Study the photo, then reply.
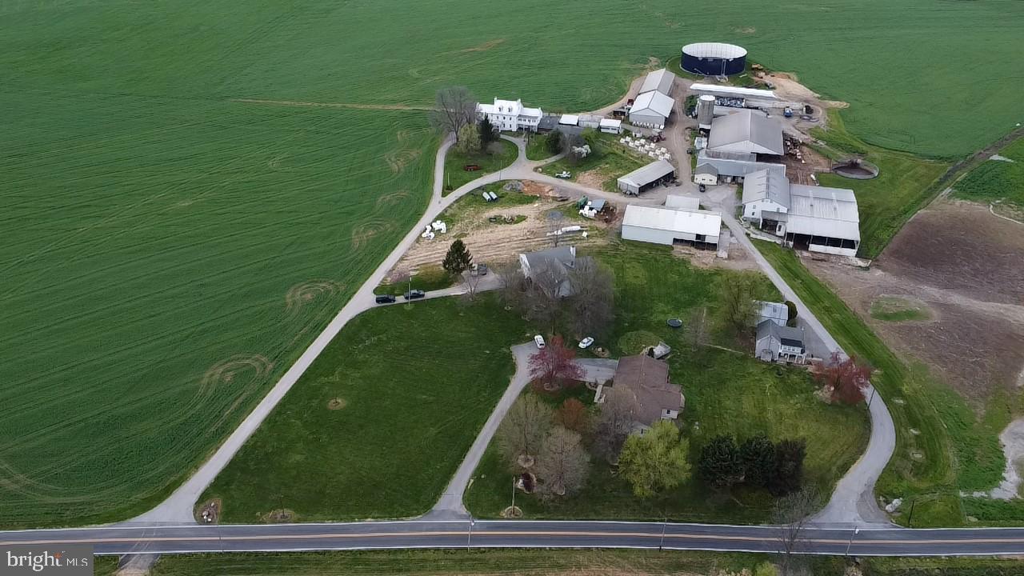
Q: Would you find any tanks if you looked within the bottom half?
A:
No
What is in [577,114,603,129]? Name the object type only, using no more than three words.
shed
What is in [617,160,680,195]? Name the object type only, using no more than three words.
shed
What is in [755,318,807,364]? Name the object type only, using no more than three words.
house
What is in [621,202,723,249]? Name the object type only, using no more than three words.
building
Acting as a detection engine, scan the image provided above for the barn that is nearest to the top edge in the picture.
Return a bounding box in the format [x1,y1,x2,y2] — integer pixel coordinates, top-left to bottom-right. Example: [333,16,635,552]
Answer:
[639,69,676,97]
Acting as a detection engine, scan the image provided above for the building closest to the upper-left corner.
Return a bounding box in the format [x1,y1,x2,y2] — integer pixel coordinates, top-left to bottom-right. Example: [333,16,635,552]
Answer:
[478,97,543,134]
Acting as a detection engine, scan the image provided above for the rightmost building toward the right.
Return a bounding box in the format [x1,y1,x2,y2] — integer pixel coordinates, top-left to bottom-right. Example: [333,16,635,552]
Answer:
[784,183,862,256]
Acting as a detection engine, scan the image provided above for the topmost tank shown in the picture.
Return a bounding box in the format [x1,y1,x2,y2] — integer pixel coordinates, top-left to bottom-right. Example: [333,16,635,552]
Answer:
[679,42,750,77]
